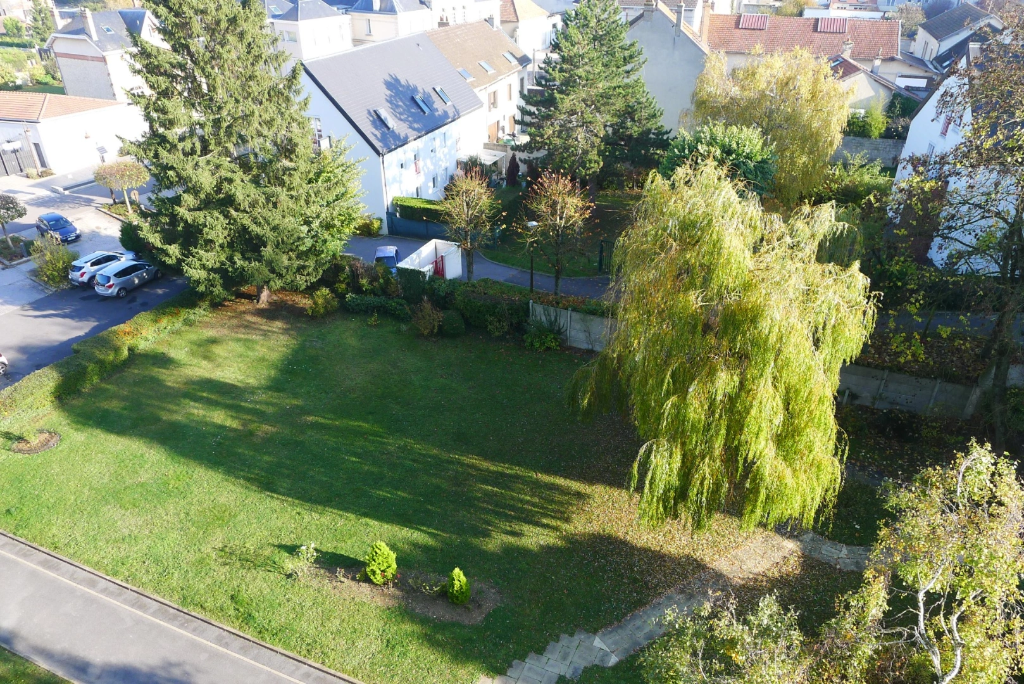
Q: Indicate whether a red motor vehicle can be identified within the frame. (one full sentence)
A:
No, there isn't any red motor vehicle down there.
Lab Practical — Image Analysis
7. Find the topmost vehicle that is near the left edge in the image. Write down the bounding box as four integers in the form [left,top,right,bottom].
[33,206,88,243]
